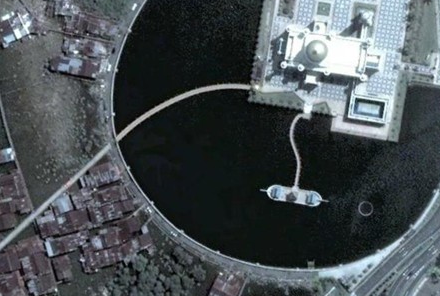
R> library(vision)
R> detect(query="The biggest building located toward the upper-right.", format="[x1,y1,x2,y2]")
[273,22,380,84]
